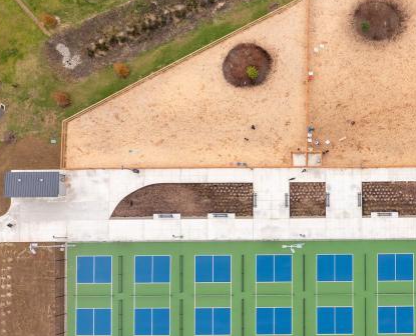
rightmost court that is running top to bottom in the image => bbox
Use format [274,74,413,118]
[377,253,414,334]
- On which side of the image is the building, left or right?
left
